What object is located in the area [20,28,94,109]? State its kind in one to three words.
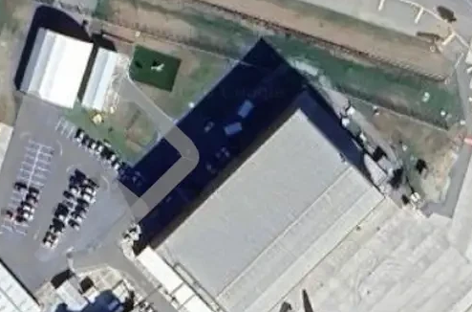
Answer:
hangar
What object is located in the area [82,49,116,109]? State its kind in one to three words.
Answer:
hangar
